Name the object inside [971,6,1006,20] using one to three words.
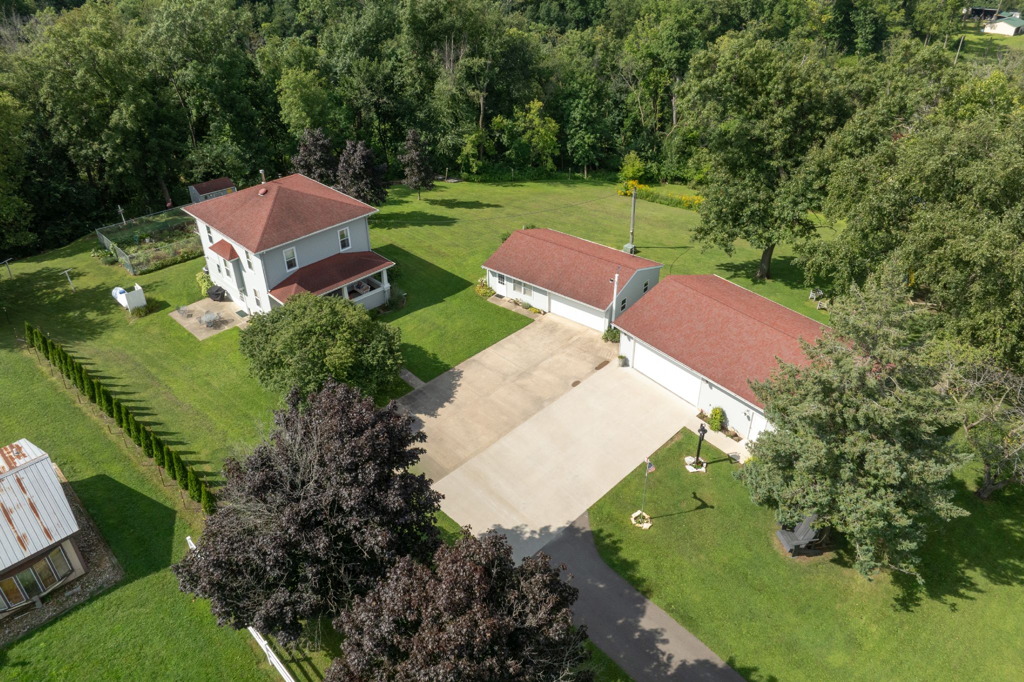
shed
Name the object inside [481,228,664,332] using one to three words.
building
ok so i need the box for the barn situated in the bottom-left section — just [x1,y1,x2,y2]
[0,438,88,623]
